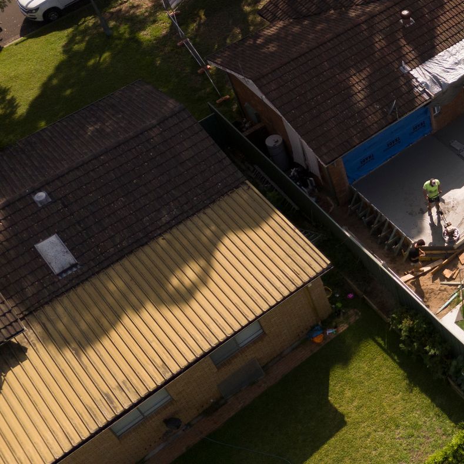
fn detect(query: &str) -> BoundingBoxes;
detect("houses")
[0,75,336,464]
[205,0,464,205]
